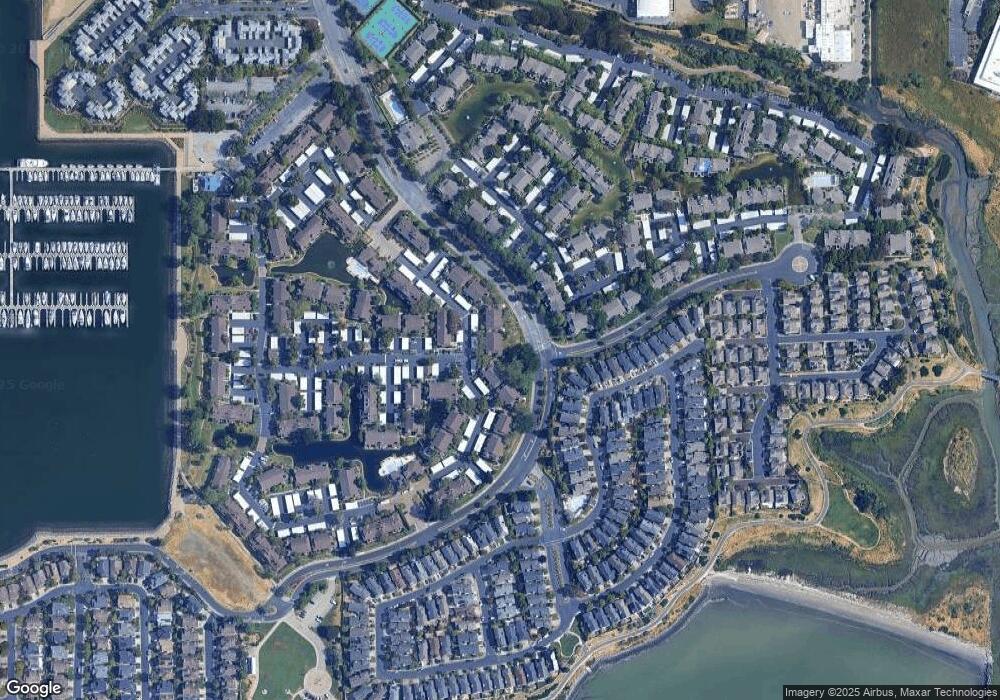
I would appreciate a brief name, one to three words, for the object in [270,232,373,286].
pond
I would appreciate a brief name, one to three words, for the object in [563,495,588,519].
swimming pool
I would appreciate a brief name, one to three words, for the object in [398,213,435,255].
building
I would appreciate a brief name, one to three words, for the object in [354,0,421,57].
sports court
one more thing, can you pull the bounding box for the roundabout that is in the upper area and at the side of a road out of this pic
[779,244,819,284]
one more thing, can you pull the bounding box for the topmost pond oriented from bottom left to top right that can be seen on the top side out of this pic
[451,81,541,143]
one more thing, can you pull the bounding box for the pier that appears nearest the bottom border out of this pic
[0,294,128,326]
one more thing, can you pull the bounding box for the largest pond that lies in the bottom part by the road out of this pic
[271,418,402,495]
